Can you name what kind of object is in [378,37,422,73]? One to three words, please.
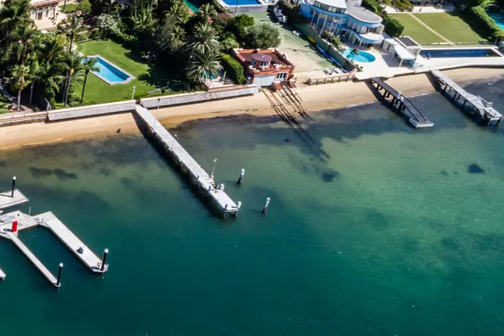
building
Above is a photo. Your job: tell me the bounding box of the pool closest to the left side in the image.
[77,56,137,85]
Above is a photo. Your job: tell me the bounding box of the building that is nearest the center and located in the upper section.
[226,49,301,97]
